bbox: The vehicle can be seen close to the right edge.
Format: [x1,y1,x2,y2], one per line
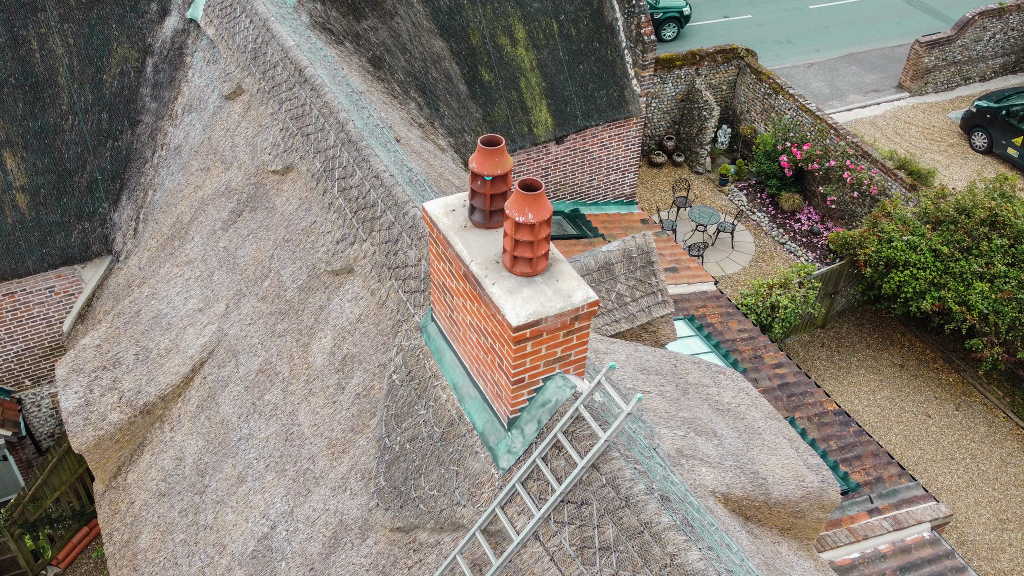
[962,97,1024,163]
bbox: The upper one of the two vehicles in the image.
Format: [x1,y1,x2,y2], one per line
[641,0,689,44]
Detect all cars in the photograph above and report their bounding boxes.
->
[641,0,689,44]
[962,97,1024,163]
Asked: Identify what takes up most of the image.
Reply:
buildings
